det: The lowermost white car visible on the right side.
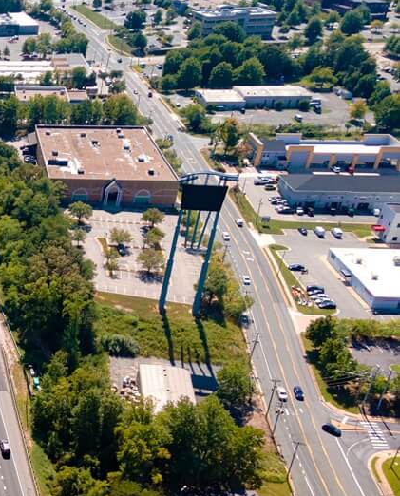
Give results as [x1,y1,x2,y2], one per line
[276,387,289,400]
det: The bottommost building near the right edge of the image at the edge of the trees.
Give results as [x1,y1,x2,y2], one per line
[326,247,400,312]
